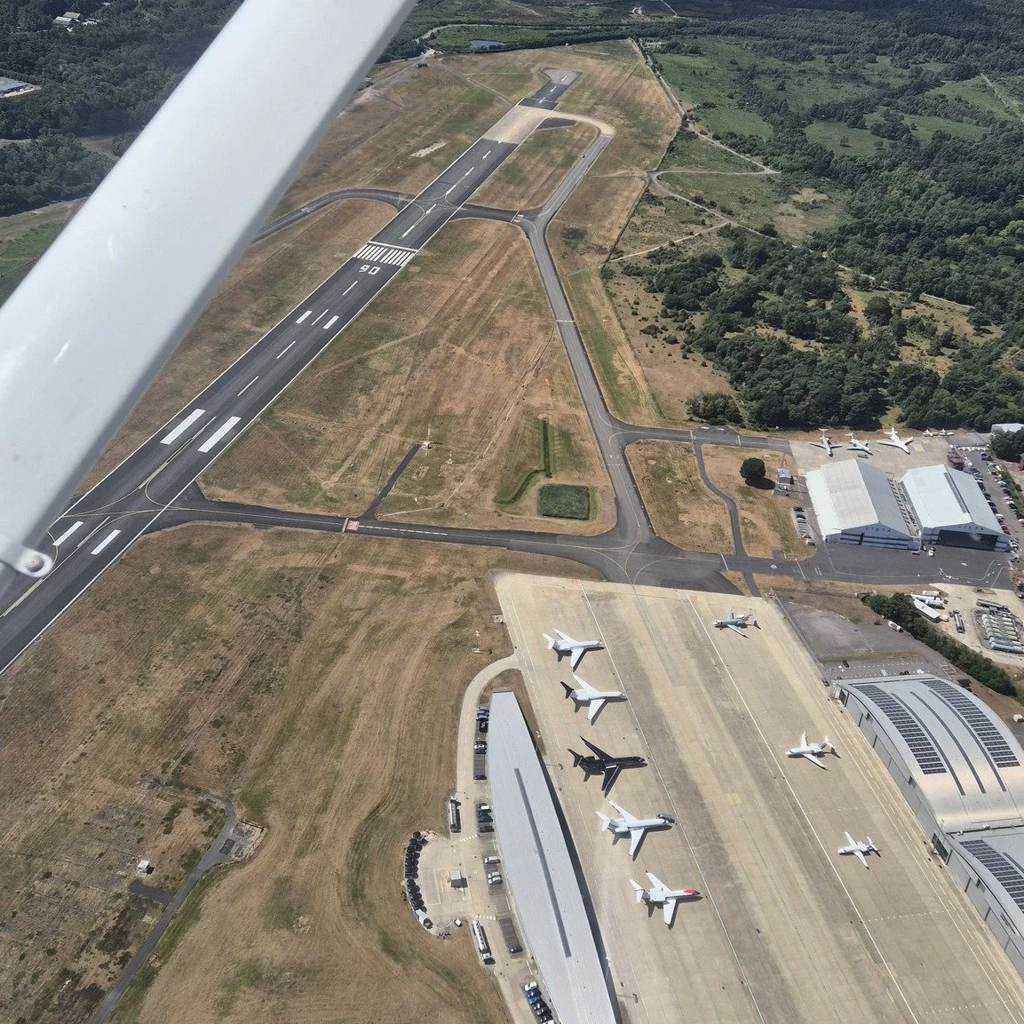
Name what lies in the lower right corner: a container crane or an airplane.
airplane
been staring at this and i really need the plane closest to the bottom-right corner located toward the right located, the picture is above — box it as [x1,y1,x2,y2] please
[838,835,881,867]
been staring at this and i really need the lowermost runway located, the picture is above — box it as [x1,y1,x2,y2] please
[0,138,525,679]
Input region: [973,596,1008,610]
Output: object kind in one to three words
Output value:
vehicle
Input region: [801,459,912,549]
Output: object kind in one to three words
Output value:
hangar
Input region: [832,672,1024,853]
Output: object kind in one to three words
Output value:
hangar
